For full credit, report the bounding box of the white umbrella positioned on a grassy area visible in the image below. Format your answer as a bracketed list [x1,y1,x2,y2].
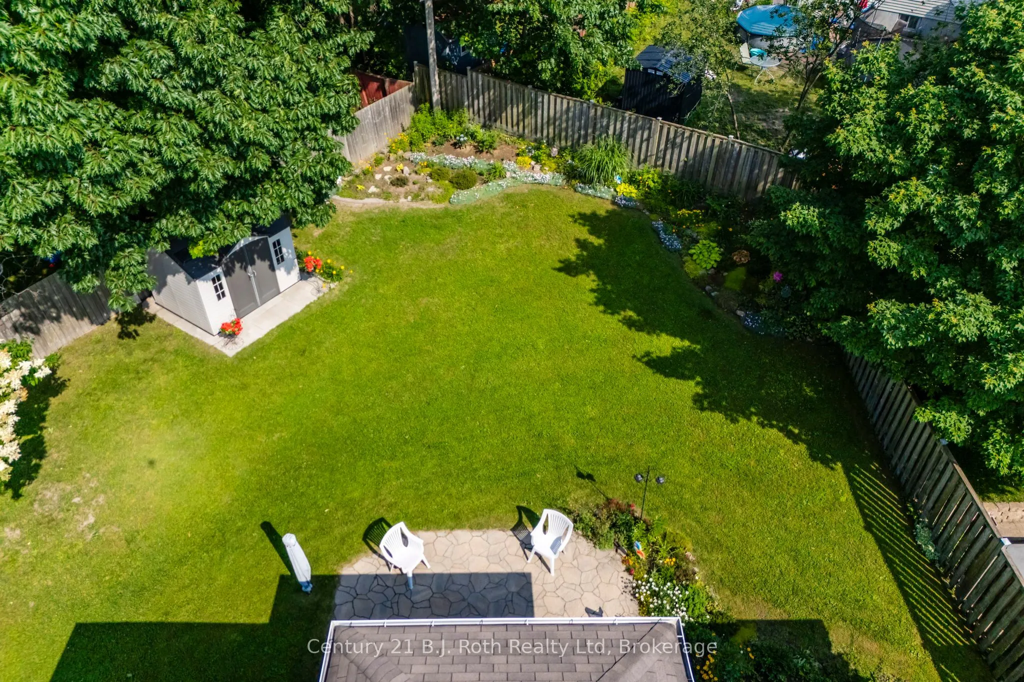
[283,534,312,596]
